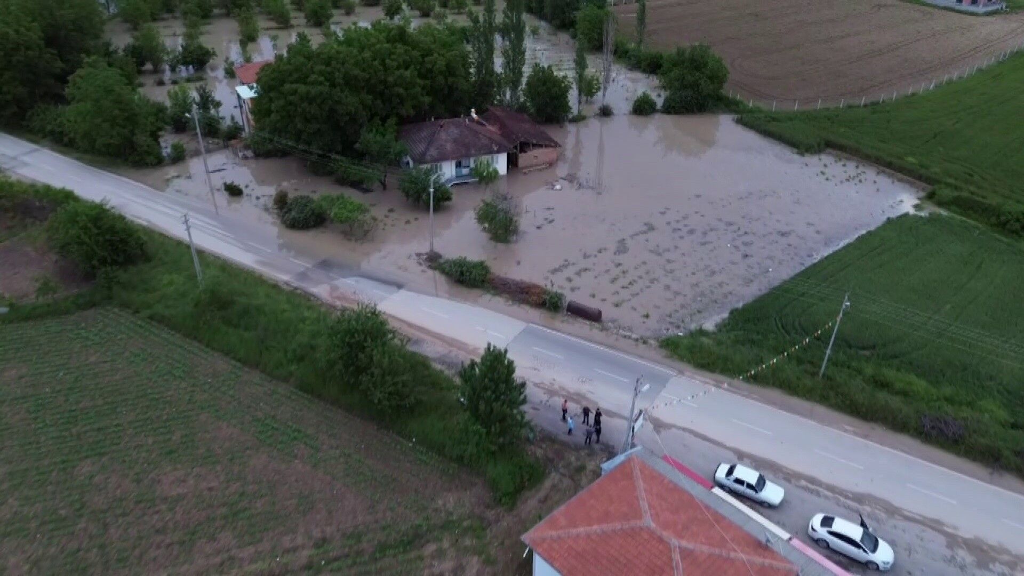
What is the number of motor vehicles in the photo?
2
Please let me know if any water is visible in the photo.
Yes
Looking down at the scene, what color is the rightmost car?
white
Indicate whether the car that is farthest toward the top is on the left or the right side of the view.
right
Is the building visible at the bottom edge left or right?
right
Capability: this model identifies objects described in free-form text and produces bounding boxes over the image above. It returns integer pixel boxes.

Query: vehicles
[716,465,786,509]
[813,514,896,570]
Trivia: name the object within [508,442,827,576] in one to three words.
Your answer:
building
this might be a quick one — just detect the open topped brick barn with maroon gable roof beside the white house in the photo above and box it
[468,106,562,171]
